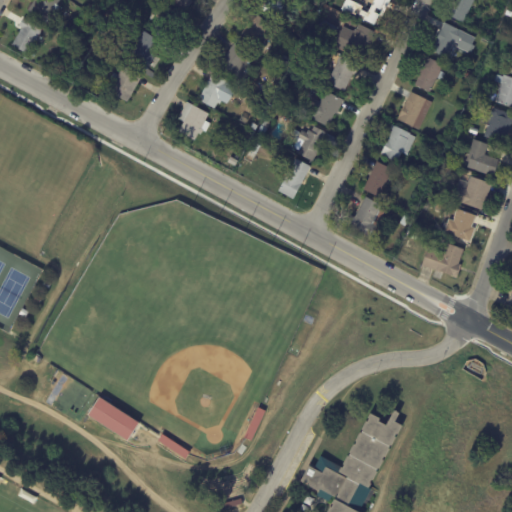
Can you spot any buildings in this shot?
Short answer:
Yes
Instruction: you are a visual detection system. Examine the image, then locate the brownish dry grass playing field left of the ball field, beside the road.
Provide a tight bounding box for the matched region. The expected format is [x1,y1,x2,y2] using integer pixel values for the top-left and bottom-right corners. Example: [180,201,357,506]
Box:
[0,92,98,258]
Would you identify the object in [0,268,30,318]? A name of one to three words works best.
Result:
tennis court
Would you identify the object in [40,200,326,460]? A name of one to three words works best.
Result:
baseball field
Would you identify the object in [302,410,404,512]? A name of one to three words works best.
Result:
building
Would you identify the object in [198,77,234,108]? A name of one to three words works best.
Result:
house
